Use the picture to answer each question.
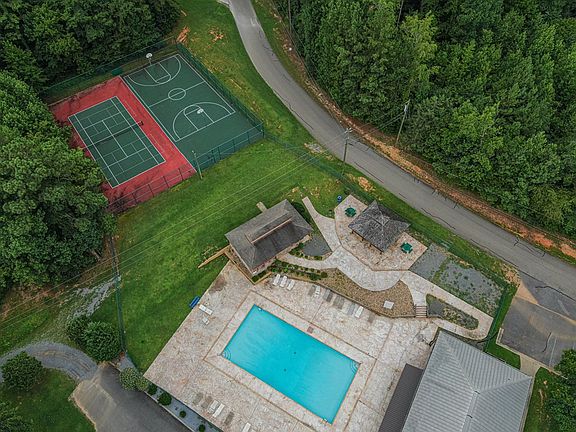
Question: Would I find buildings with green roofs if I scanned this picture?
No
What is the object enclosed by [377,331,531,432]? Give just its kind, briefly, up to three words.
building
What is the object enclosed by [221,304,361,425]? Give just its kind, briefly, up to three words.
swimming pool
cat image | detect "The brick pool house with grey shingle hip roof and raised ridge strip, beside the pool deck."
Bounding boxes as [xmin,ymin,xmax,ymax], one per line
[224,199,314,275]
